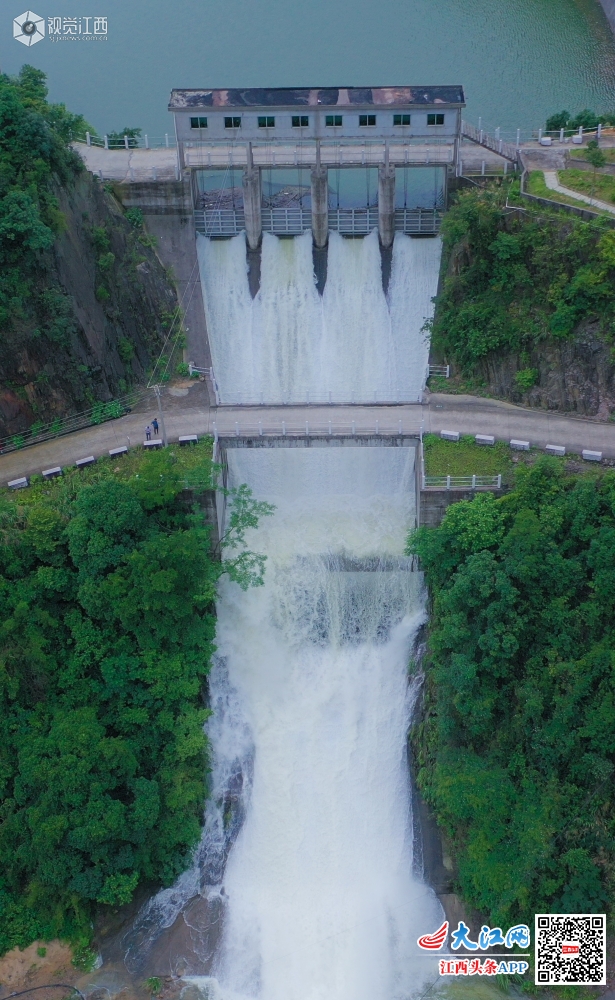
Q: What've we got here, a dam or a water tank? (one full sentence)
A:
The image shows a dam.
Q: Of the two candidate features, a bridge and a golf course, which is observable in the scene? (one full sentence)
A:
The image shows a bridge.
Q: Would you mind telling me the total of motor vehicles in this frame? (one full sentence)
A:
The count of motor vehicles is 0.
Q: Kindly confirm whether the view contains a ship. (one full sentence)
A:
No, the picture doesn't show any ship.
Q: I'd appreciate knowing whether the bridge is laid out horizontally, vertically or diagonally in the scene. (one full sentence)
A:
What the image shows is the bridge lying horizontally.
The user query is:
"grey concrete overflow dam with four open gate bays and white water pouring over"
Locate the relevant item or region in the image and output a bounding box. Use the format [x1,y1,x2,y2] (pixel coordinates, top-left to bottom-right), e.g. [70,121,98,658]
[62,129,530,390]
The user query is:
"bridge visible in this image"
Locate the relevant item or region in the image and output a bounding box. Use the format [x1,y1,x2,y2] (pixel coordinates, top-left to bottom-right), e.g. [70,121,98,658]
[210,394,432,448]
